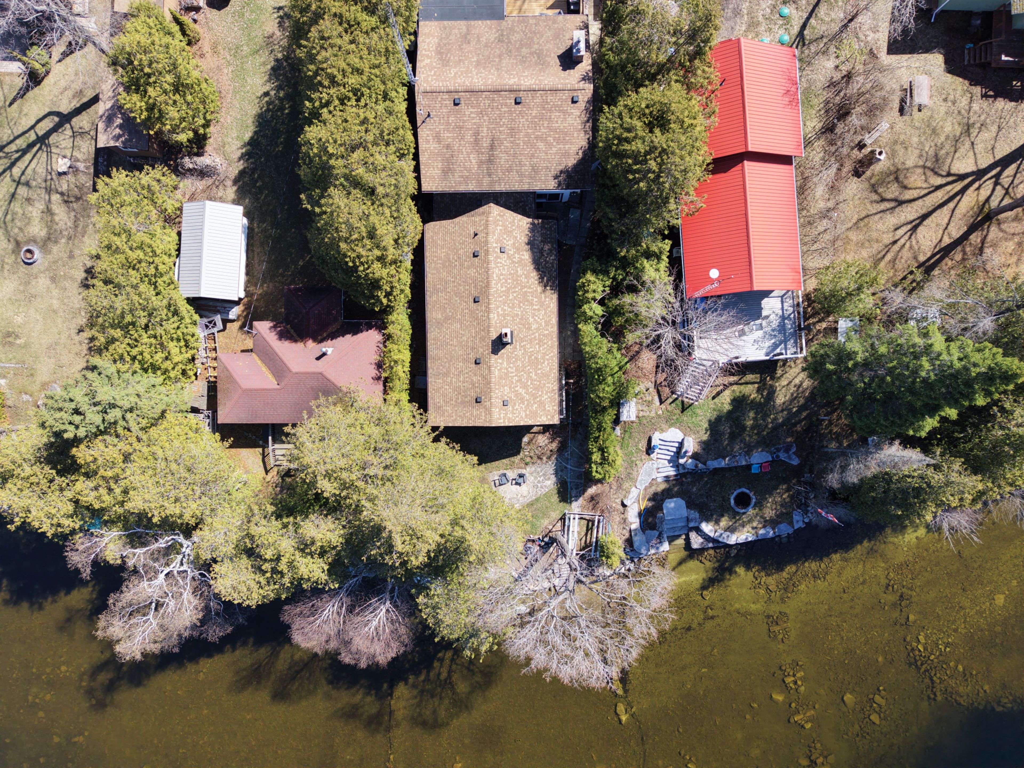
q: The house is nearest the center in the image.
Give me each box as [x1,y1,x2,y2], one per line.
[425,193,560,426]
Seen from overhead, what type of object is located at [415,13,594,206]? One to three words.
house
